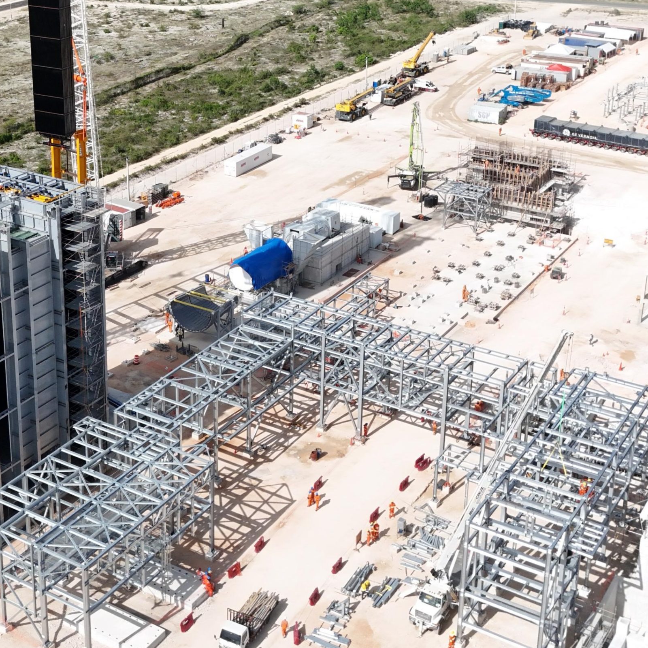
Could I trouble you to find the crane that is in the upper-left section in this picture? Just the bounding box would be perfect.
[73,0,152,293]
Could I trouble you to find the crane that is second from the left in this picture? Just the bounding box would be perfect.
[337,77,370,117]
